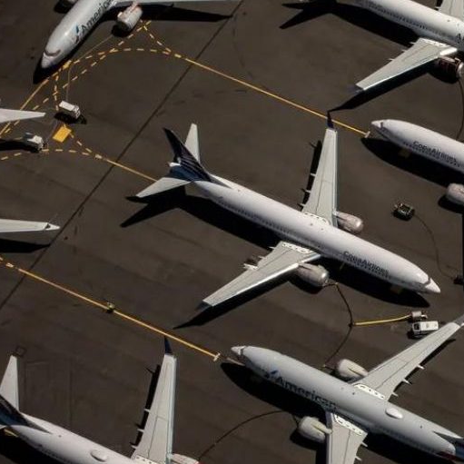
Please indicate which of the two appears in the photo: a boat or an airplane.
airplane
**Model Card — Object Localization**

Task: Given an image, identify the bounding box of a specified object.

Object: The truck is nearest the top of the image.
[56,100,82,122]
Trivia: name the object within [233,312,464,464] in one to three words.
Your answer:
airplane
